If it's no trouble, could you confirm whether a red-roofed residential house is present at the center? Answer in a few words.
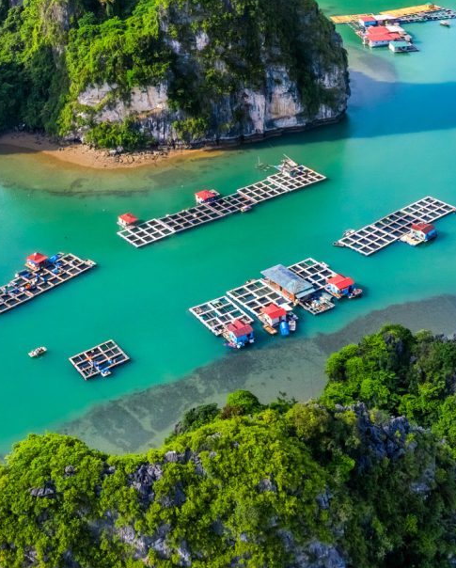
Yes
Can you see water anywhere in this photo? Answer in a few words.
Yes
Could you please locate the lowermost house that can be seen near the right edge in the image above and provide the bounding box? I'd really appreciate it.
[402,221,436,247]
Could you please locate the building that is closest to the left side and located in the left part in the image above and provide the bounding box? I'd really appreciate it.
[21,250,47,273]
